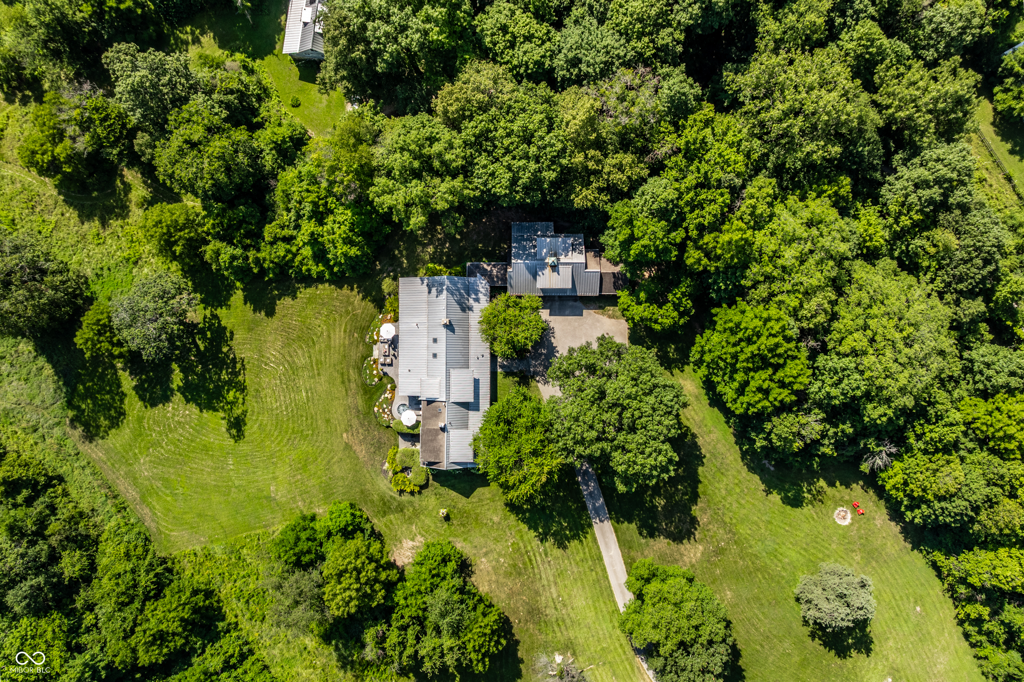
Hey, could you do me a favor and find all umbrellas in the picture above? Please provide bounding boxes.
[402,411,416,425]
[381,324,395,338]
